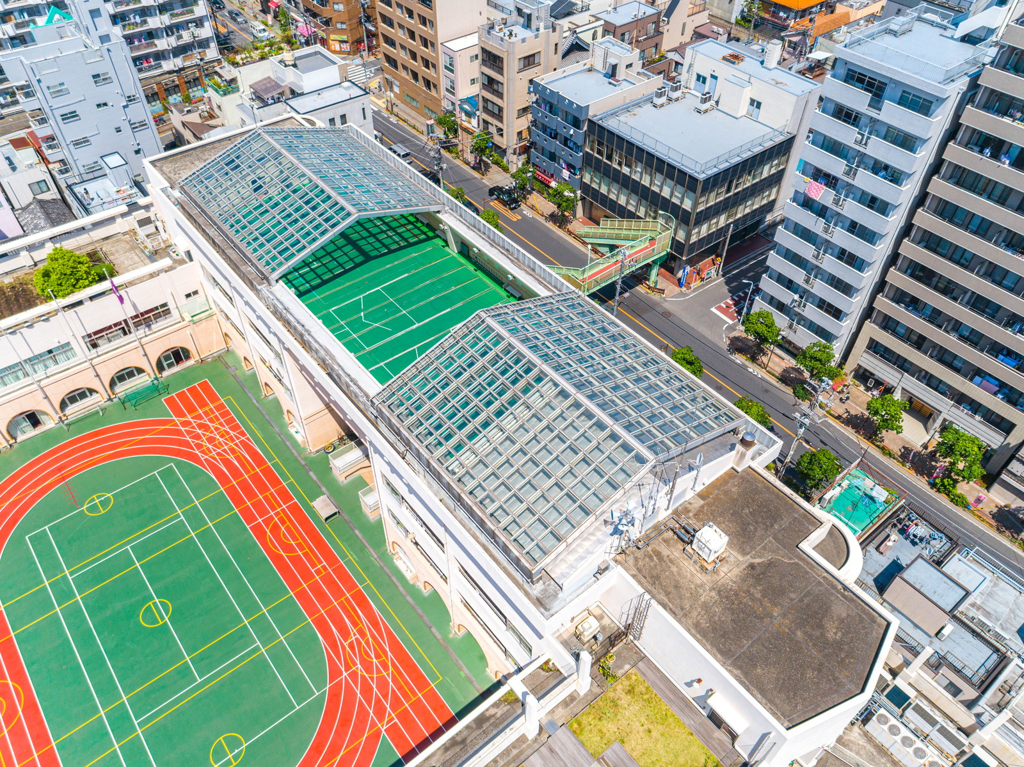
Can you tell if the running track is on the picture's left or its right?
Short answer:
left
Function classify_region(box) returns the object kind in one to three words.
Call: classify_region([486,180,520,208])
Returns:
car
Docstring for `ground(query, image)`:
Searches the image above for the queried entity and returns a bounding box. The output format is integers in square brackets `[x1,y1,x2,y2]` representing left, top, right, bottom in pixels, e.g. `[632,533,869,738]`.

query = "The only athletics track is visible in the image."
[0,381,458,767]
